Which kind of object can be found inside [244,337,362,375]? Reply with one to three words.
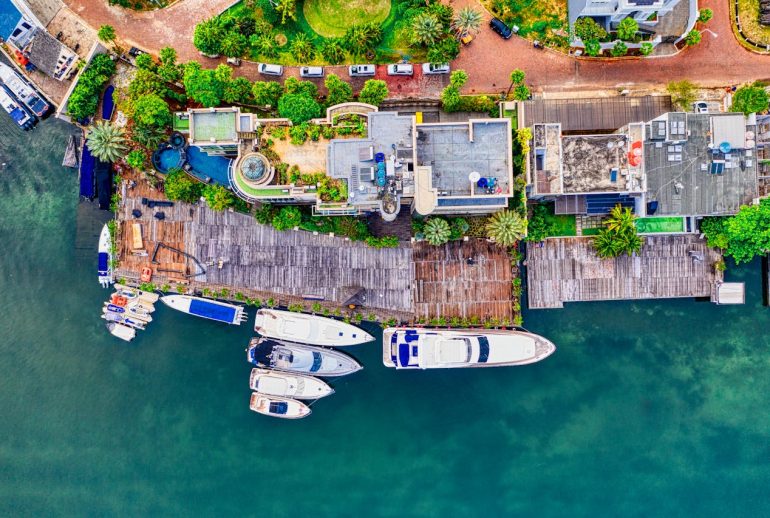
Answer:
boat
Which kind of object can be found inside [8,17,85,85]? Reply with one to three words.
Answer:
house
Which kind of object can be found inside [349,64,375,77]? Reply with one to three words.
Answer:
vehicle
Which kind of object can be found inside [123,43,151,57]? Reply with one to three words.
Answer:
vehicle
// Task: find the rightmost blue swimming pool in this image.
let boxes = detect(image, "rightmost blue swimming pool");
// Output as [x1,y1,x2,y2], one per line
[184,144,235,189]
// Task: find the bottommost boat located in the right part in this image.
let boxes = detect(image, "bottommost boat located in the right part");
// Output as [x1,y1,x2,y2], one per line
[383,328,557,370]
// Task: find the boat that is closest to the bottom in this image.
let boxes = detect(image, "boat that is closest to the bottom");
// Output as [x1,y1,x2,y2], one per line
[248,391,312,417]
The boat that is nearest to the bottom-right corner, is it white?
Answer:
Yes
